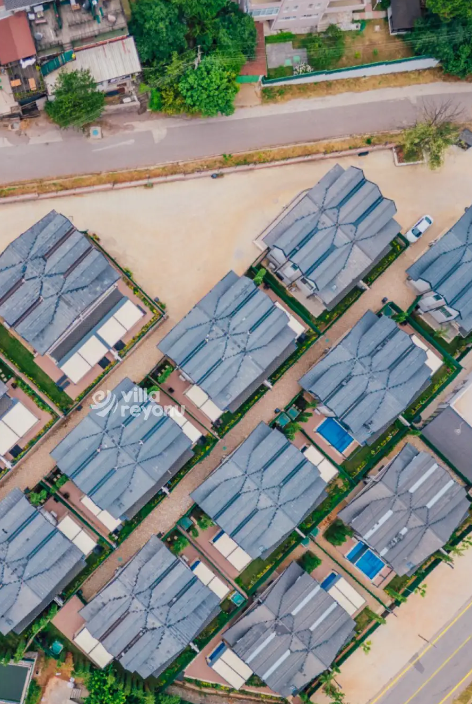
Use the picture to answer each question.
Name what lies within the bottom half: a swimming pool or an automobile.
swimming pool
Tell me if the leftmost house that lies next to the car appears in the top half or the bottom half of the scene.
top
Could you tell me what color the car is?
white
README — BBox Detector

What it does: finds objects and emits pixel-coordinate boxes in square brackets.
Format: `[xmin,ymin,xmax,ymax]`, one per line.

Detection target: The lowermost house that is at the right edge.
[339,444,470,579]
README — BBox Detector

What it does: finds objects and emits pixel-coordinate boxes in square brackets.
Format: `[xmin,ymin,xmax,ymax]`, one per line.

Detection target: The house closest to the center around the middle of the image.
[159,272,296,412]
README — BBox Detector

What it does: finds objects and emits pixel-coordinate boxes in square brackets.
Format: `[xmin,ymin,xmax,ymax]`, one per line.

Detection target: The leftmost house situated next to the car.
[264,165,403,307]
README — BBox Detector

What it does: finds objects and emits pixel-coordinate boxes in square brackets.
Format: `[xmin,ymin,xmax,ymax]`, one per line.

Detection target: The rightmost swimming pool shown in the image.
[345,540,387,582]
